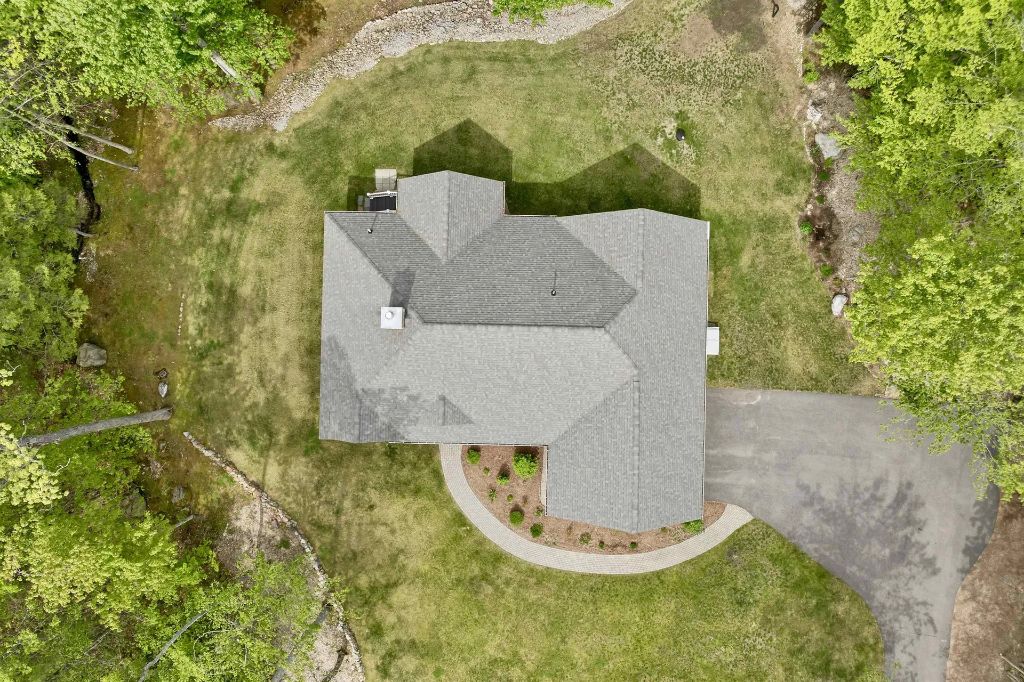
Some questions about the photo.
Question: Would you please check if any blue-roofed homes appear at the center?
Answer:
No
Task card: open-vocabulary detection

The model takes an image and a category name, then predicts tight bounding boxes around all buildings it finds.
[319,171,719,533]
